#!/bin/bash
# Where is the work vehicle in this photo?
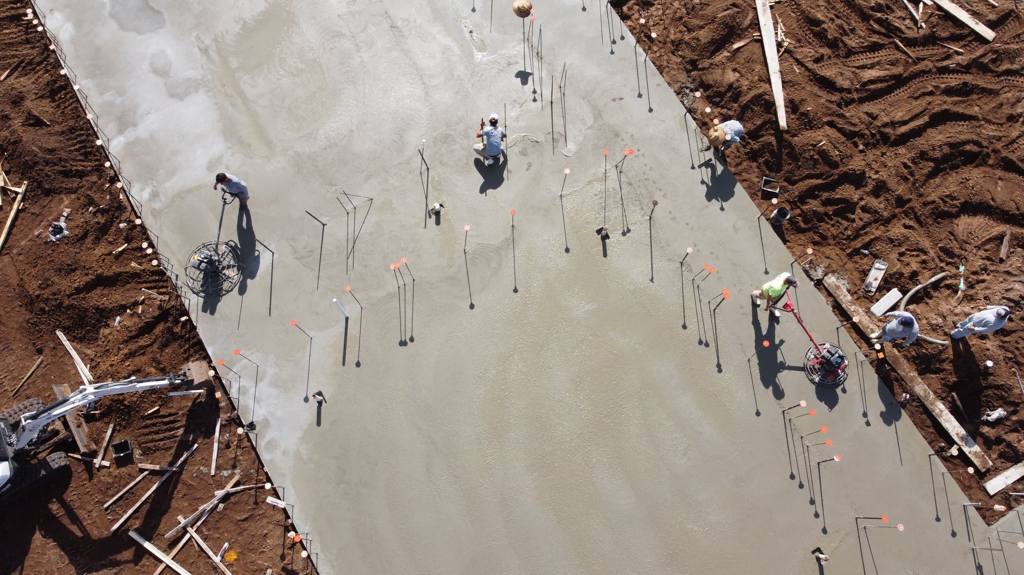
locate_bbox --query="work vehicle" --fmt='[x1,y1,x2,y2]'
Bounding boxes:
[0,358,216,525]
